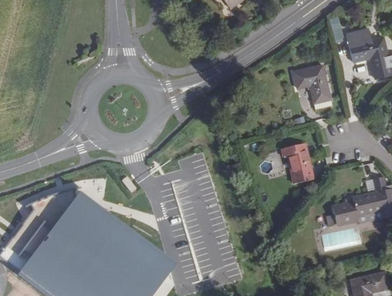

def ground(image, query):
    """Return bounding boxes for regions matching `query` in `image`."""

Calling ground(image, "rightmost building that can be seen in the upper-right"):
[346,28,392,80]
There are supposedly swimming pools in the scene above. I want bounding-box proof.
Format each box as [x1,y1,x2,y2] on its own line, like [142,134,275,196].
[260,162,272,173]
[320,226,364,252]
